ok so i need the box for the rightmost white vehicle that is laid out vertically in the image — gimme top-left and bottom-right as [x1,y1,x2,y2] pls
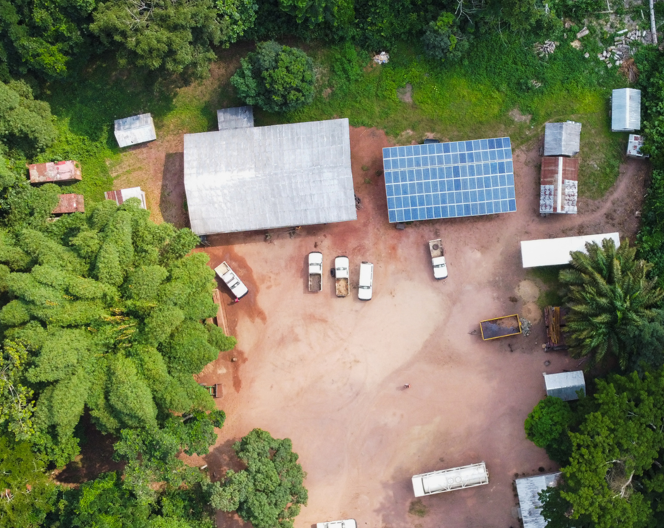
[429,239,447,280]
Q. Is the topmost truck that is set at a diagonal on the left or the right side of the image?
left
